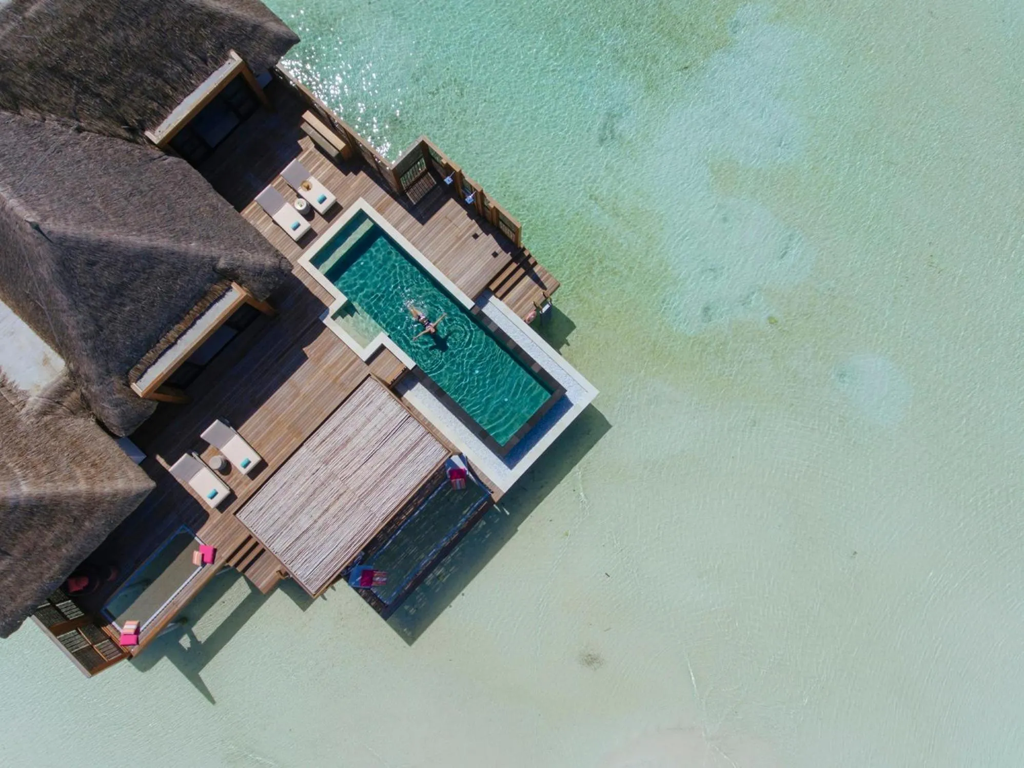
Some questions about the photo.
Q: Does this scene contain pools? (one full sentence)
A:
Yes, the photo shows a pool.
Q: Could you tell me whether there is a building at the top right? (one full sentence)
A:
No, I can find no building at the top right.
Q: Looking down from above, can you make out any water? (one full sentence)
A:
Yes, some water is visible.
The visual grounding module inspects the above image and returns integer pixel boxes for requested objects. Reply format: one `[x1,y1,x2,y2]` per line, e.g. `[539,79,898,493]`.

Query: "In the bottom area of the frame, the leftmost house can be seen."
[0,349,163,637]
